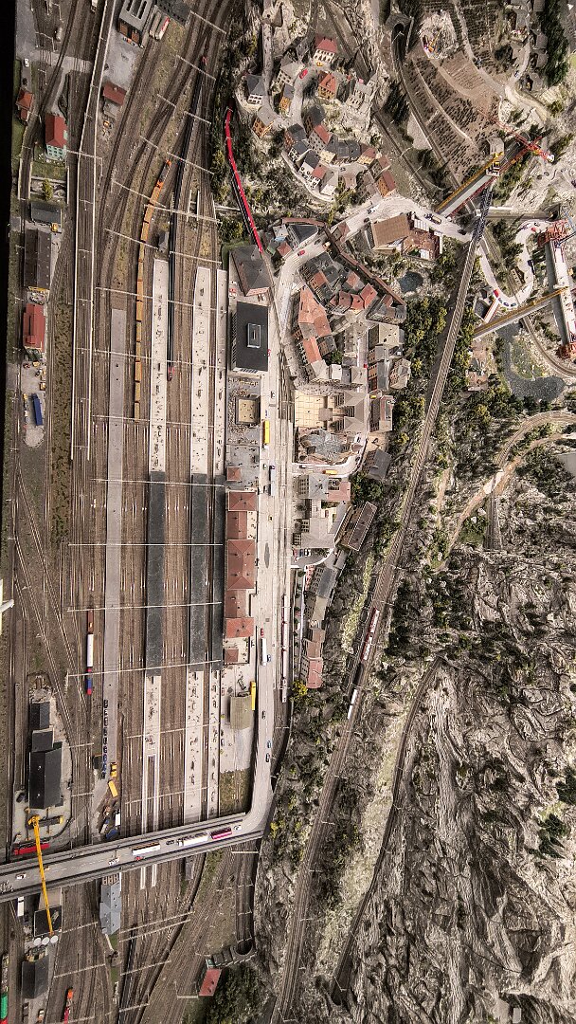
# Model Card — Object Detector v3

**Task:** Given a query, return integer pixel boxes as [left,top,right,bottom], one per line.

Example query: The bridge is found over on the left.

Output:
[0,622,277,902]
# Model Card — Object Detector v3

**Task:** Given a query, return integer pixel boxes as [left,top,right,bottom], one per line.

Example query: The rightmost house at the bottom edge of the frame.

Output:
[501,994,522,1023]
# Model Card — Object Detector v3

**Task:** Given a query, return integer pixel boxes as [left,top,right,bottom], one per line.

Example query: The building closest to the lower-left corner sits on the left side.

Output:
[22,948,48,998]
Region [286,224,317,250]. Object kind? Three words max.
house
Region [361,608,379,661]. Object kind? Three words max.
train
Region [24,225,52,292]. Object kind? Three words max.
building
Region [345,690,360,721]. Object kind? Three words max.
train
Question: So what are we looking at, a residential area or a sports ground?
residential area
